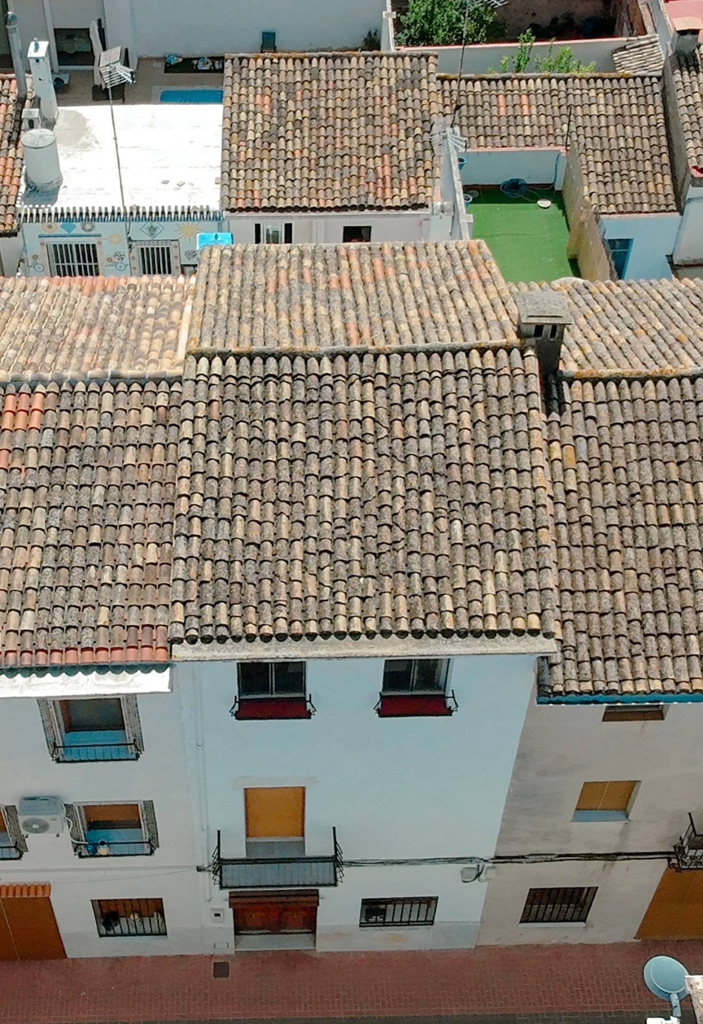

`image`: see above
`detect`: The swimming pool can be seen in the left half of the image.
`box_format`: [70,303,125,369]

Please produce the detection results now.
[151,84,220,103]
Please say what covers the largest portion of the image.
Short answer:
buildings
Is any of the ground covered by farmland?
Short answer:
No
